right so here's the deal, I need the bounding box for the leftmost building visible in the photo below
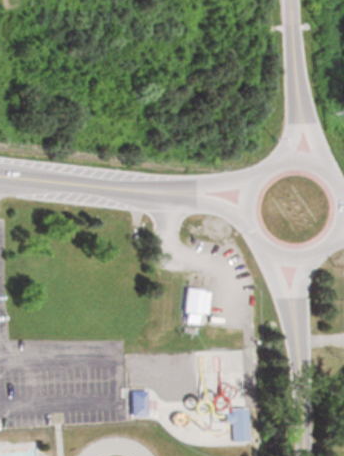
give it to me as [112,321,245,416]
[133,390,150,416]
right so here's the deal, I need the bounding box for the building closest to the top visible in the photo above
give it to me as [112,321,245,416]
[187,288,213,316]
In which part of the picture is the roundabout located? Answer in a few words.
right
